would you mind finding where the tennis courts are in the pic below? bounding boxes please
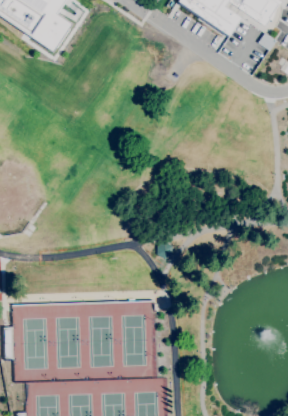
[102,392,127,416]
[136,392,160,416]
[22,318,48,369]
[123,315,149,366]
[70,394,94,416]
[37,394,61,416]
[90,316,115,367]
[56,317,82,368]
